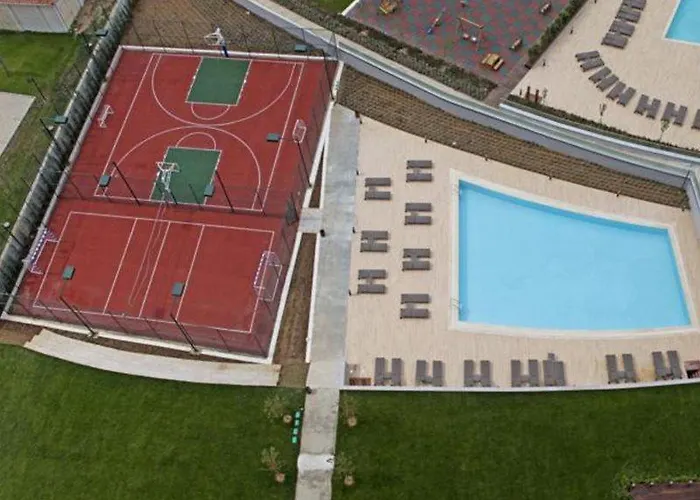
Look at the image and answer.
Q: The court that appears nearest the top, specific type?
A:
basketball court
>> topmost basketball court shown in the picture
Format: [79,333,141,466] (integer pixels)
[58,51,335,220]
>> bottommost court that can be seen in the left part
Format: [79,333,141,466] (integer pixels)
[8,198,296,352]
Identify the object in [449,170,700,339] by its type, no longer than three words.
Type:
swimming pool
